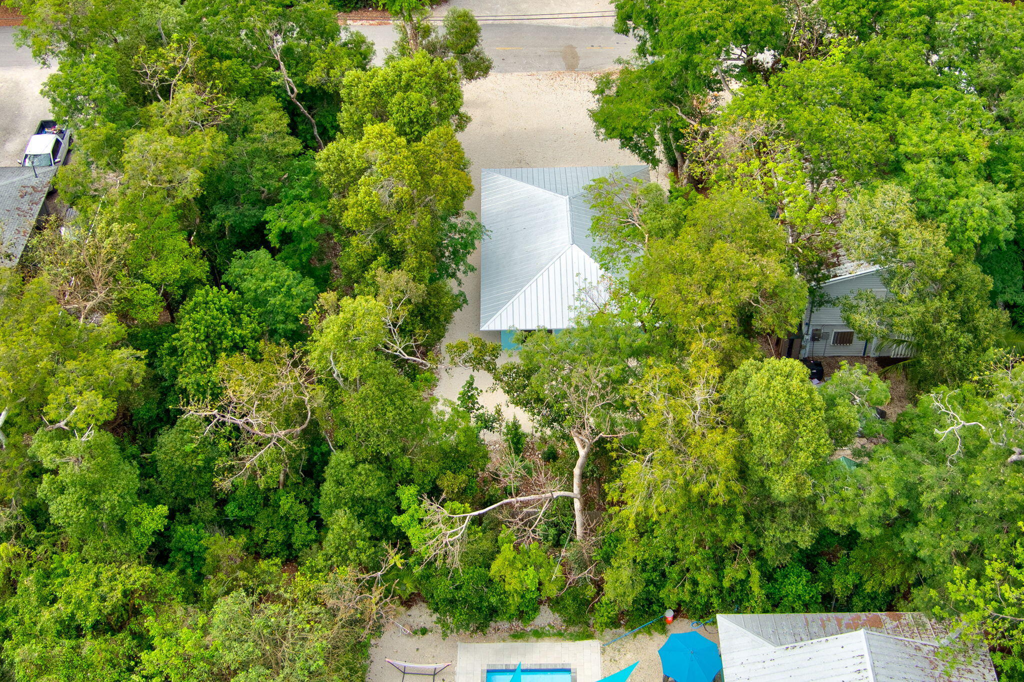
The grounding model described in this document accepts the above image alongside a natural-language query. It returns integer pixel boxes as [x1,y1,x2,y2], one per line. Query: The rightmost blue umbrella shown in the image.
[656,632,721,682]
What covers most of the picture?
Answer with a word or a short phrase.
trees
